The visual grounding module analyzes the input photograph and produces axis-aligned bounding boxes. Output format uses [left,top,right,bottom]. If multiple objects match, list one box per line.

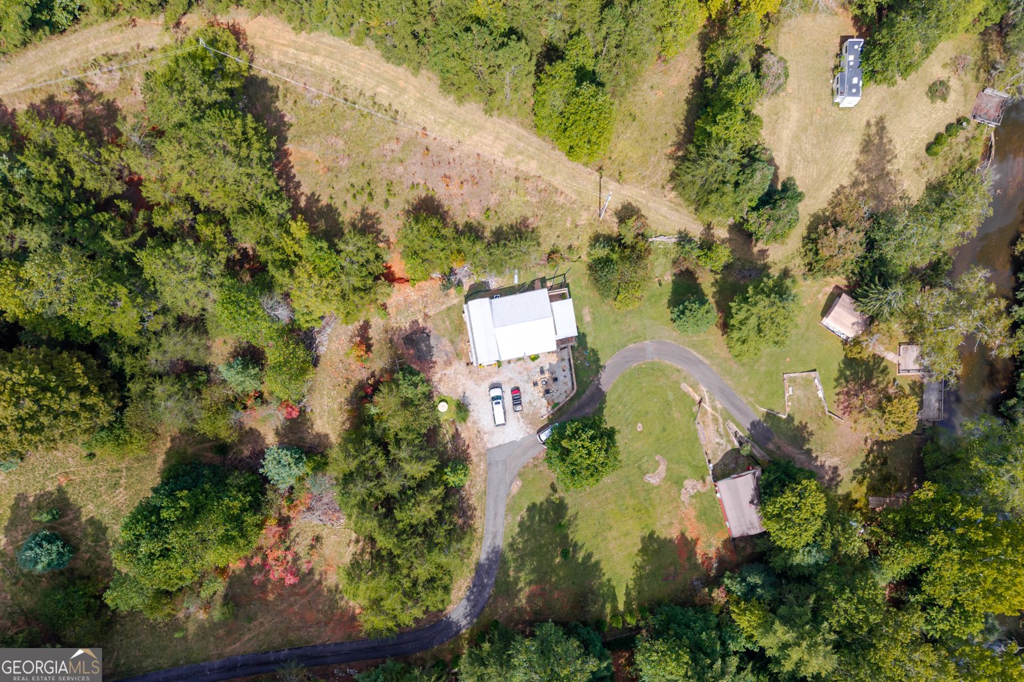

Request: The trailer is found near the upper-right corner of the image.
[831,40,862,118]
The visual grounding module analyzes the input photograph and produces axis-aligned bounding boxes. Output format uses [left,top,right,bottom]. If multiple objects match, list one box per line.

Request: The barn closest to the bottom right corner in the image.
[713,470,767,540]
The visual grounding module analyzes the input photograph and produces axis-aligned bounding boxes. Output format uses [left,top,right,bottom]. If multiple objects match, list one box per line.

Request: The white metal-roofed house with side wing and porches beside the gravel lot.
[463,277,577,370]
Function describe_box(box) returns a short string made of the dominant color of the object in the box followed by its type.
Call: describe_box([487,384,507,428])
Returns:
white car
